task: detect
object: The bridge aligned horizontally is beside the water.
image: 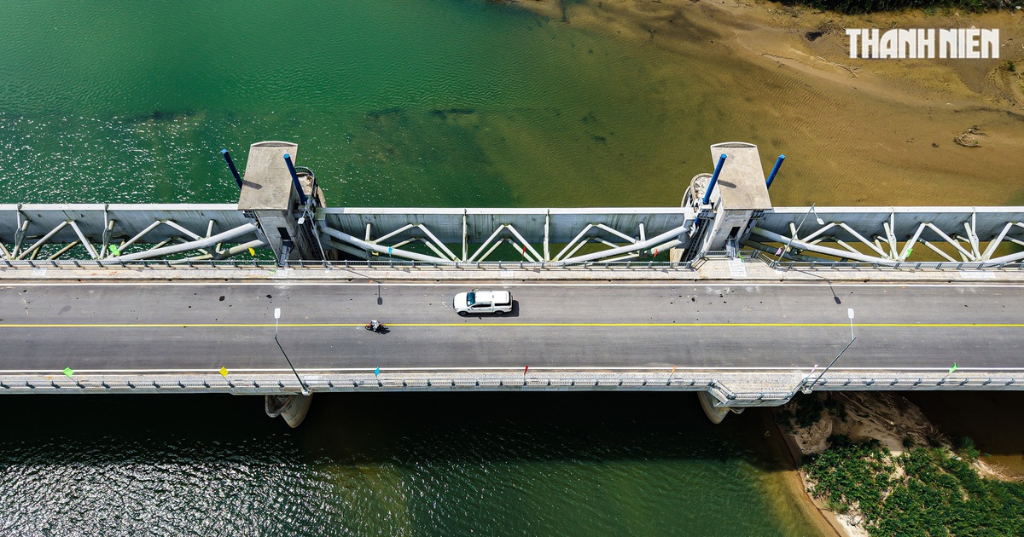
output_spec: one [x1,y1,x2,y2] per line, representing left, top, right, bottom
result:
[0,253,1024,407]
